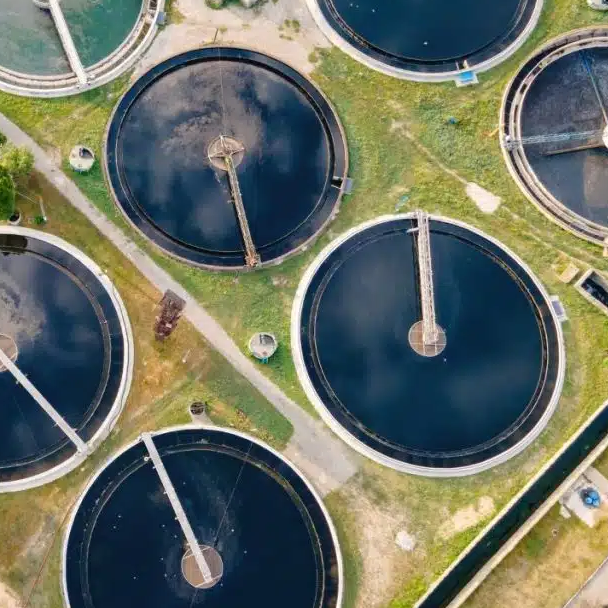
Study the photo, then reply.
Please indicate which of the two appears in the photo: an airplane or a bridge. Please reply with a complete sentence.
This aerial view contains a bridge.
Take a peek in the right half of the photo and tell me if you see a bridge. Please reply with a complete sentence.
Yes, looking in the right half of the photo, one can make out a bridge.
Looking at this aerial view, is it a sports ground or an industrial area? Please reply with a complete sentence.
The picture captures an industrial area.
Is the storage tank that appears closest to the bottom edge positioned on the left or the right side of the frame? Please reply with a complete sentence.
The storage tank that appears closest to the bottom edge is on the left side of the image.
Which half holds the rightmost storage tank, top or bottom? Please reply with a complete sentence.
The rightmost storage tank is in the top half of the image.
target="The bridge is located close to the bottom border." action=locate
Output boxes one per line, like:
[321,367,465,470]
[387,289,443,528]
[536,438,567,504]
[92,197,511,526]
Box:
[136,431,213,582]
